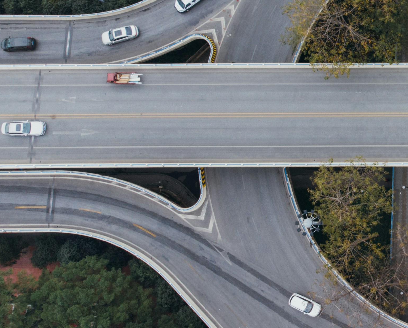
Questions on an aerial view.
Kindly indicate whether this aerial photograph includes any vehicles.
Yes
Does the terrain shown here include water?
No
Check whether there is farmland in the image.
No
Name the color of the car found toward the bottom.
white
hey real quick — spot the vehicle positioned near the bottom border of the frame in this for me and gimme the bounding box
[287,291,323,318]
